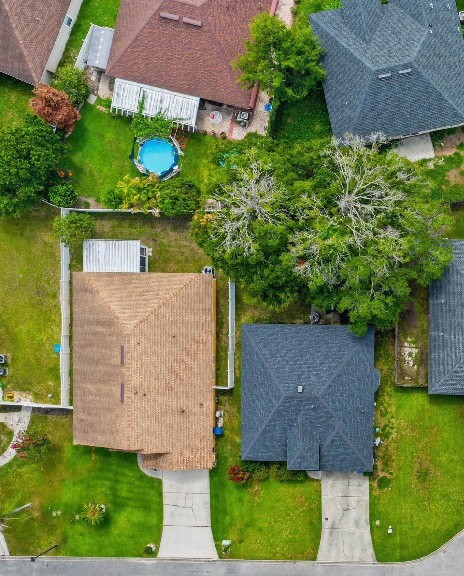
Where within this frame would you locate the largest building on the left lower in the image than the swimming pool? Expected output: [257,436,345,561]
[72,270,218,470]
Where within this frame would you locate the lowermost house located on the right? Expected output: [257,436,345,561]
[241,324,379,472]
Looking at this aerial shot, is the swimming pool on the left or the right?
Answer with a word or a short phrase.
left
